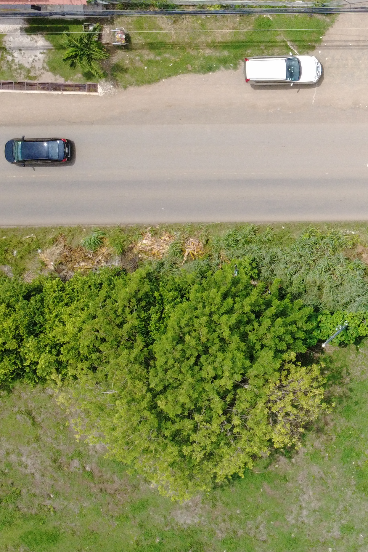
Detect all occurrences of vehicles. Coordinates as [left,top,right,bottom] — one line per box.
[2,134,68,168]
[248,52,325,88]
